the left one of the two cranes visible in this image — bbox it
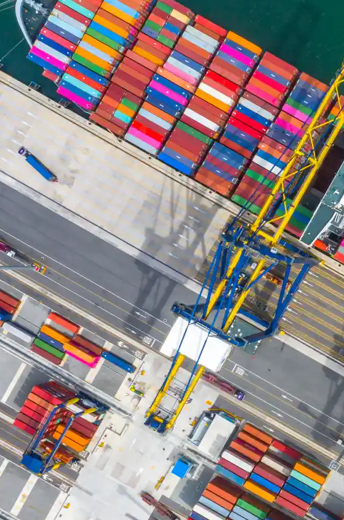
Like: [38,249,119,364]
[22,391,109,481]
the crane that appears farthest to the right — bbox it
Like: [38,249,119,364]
[141,57,344,436]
